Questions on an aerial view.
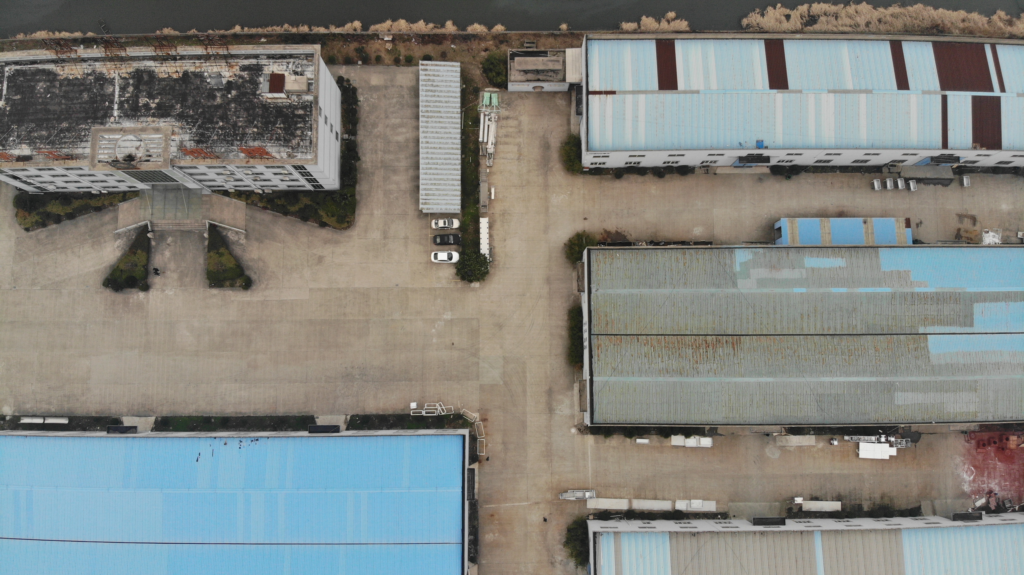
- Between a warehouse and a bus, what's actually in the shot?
warehouse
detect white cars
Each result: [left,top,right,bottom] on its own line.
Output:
[431,250,459,263]
[431,218,460,231]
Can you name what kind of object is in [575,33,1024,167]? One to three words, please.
warehouse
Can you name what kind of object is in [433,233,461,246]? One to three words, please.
vehicle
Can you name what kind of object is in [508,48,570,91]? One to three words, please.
building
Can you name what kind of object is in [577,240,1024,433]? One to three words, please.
warehouse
